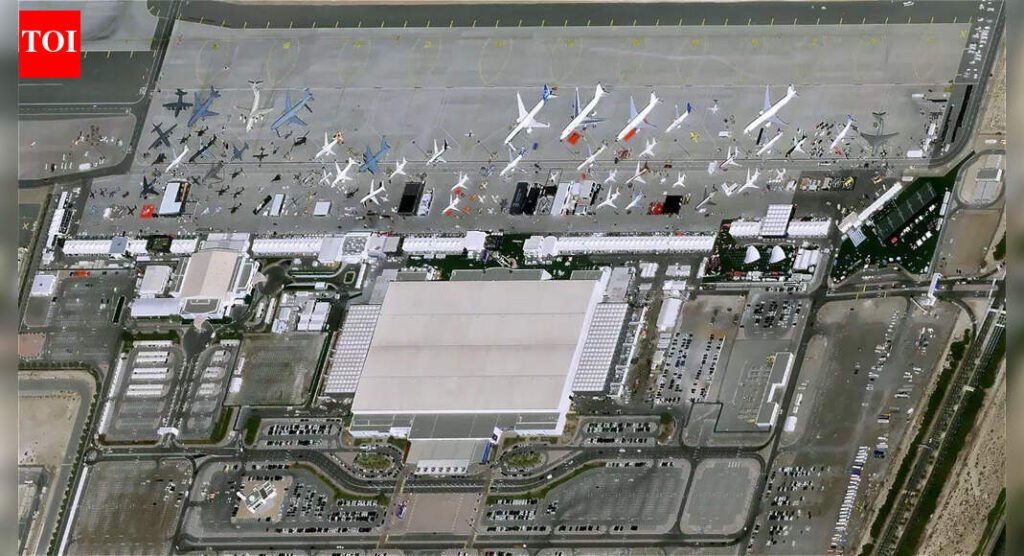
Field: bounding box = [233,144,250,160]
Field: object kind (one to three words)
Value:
airplane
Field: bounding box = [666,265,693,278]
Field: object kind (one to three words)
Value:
tent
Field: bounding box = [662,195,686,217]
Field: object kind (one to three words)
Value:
building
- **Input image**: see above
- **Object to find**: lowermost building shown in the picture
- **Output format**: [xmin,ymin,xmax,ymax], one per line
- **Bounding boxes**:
[236,481,280,516]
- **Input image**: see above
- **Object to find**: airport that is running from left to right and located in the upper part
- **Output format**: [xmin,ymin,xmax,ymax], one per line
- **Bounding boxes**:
[0,0,1021,243]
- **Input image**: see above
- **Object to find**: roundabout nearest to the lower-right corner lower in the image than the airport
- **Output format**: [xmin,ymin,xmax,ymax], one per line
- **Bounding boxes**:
[499,445,551,478]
